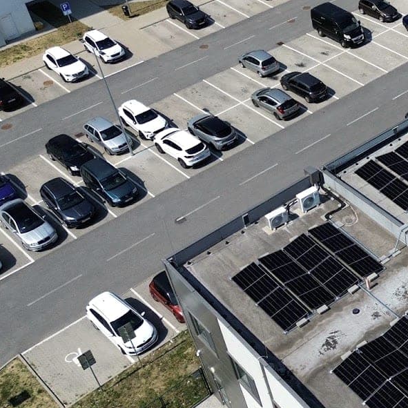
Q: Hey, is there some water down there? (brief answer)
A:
No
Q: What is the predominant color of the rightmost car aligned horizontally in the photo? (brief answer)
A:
black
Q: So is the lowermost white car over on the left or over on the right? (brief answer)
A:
left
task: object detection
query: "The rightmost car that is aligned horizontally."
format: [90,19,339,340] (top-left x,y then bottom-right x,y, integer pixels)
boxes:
[355,0,400,22]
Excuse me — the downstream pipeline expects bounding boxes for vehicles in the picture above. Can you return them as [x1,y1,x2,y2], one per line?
[280,71,330,104]
[165,0,209,28]
[83,287,161,357]
[0,79,24,112]
[78,112,135,157]
[0,173,21,207]
[113,96,169,139]
[0,198,58,251]
[307,0,365,44]
[80,26,127,62]
[235,47,284,80]
[185,112,242,151]
[41,44,90,82]
[43,128,96,175]
[78,155,139,205]
[154,127,212,168]
[249,87,302,121]
[146,269,189,328]
[35,173,95,226]
[355,0,400,22]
